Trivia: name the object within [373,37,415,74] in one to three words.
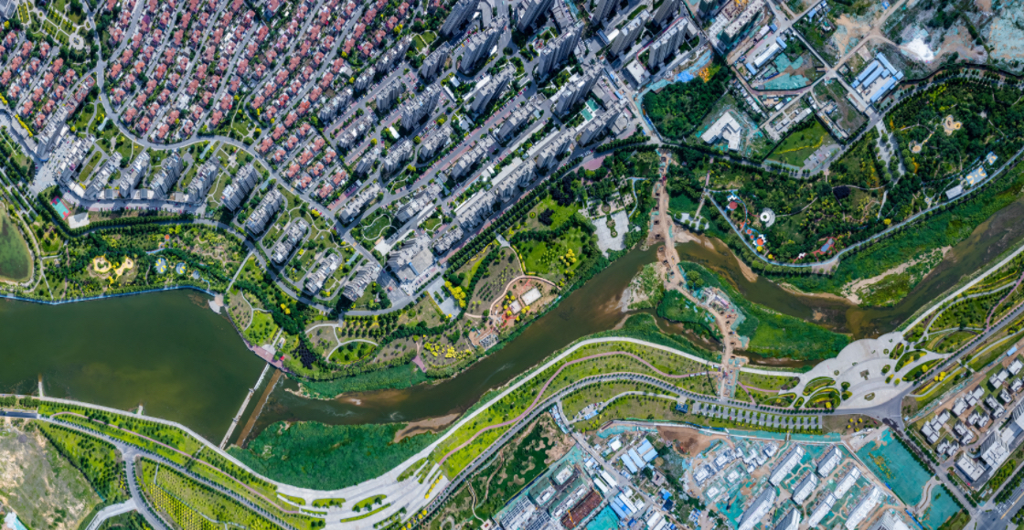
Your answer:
building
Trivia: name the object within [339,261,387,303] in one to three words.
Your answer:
building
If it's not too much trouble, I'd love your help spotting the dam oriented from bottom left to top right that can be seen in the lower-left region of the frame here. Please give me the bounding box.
[219,364,282,447]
